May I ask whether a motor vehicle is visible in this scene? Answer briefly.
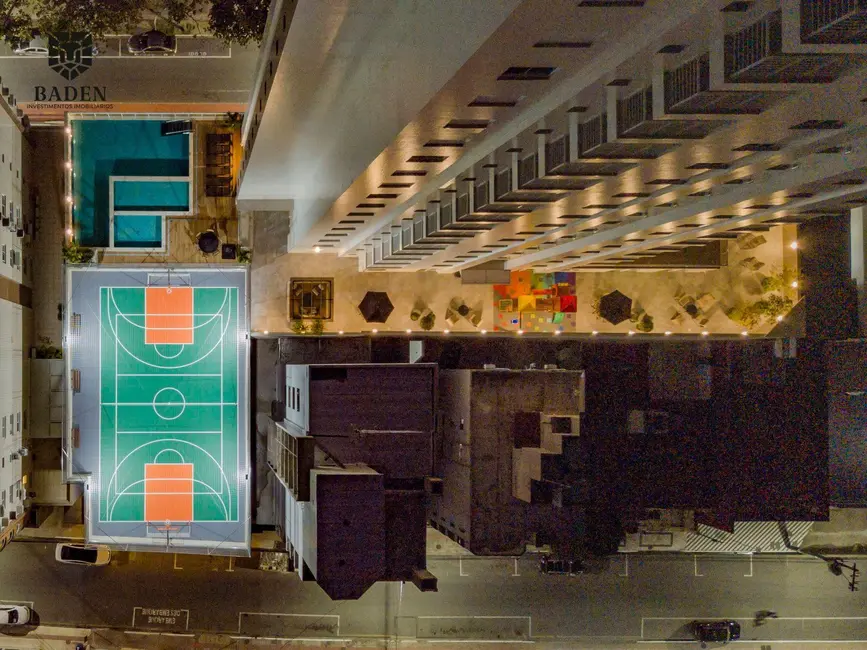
Yes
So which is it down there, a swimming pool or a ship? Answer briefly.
swimming pool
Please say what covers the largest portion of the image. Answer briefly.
buildings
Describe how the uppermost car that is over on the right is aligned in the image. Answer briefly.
from side to side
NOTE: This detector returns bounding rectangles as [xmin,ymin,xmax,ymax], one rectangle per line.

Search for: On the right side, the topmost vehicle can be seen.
[538,554,585,578]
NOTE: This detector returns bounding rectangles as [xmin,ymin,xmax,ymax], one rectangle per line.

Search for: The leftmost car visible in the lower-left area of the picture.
[0,602,31,628]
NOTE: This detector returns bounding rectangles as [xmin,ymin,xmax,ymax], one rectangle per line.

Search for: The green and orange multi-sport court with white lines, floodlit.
[69,267,246,546]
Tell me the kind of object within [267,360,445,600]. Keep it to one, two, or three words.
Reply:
house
